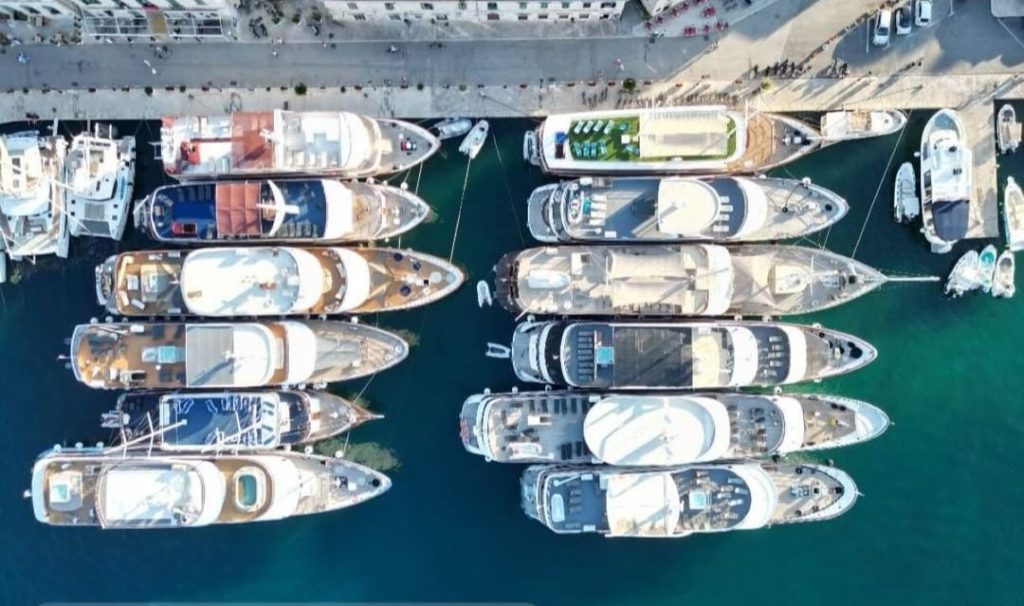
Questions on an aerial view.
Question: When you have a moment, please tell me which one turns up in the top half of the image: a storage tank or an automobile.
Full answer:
There is an automobile in the top half of the image.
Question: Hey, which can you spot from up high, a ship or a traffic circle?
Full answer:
Visible in the photo is a ship.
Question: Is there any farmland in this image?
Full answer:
No, farmland can't be seen anywhere here.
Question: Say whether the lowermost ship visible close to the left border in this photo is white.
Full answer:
Yes, the lowermost ship visible close to the left border is white.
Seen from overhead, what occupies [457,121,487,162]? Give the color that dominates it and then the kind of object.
white boat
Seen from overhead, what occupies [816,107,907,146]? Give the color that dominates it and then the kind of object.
white boat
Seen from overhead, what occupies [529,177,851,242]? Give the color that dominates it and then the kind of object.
white ship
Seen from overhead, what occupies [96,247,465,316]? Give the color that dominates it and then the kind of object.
white ship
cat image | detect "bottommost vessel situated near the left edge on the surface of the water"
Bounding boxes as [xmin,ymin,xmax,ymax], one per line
[10,446,391,528]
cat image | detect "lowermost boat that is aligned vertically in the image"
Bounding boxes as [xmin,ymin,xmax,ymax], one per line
[551,493,566,524]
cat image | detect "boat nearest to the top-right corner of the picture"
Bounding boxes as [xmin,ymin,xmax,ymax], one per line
[998,104,1023,154]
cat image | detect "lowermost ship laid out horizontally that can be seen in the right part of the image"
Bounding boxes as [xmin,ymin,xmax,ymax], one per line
[522,462,864,536]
